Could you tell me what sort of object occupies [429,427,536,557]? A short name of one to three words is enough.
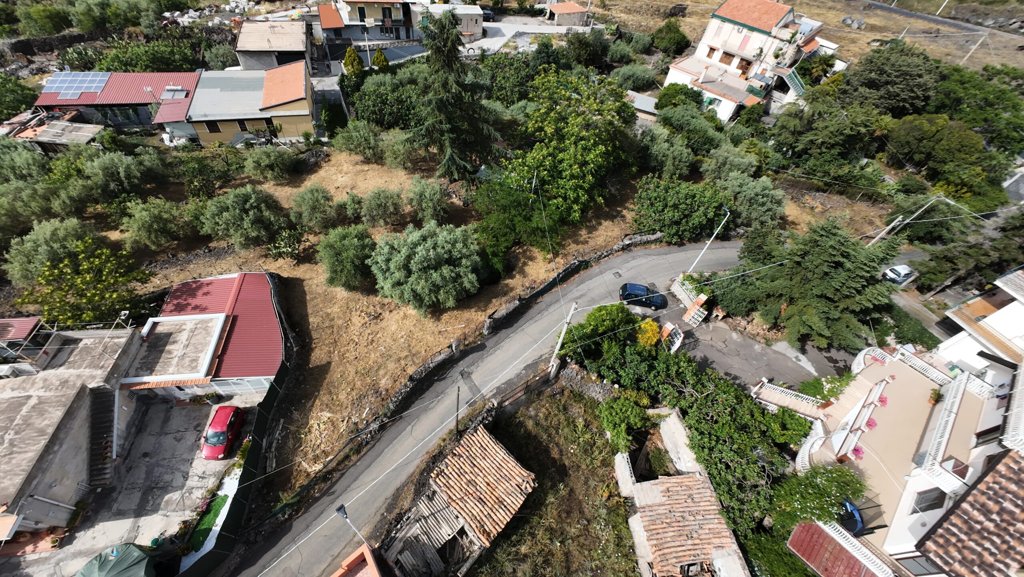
shed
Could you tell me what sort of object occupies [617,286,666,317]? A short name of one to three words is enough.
car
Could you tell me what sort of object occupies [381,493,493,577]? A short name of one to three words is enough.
shed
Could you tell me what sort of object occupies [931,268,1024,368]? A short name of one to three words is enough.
house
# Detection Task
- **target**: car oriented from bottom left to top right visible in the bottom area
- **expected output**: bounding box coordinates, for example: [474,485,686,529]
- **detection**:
[199,403,256,468]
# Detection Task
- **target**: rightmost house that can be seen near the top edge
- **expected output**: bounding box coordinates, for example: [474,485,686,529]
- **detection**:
[663,0,839,119]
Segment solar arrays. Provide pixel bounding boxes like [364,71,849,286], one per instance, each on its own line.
[42,72,112,100]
